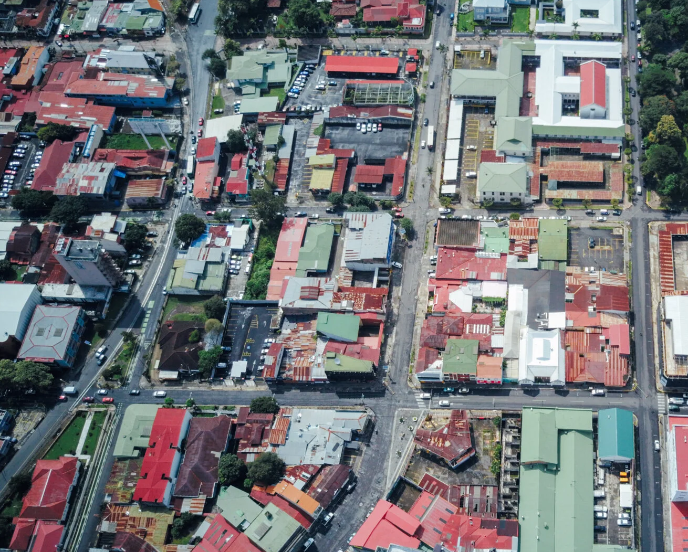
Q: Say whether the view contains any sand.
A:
No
